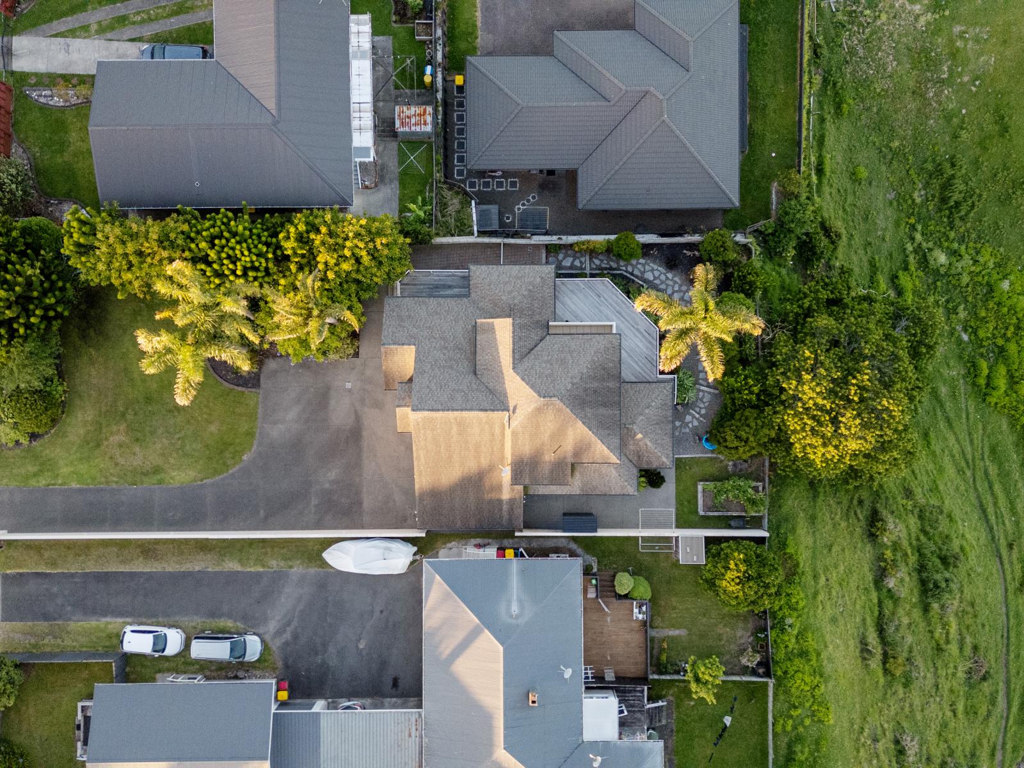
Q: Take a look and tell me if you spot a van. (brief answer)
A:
Yes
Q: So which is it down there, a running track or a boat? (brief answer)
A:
boat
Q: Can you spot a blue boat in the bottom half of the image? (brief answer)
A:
No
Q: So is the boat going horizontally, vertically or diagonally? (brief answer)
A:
horizontally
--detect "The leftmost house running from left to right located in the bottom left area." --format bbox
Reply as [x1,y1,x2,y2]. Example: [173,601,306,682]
[86,678,277,768]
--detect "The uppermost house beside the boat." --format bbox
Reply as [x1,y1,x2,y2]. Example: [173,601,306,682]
[381,263,676,532]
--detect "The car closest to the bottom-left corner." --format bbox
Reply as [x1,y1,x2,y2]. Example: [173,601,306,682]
[117,623,187,660]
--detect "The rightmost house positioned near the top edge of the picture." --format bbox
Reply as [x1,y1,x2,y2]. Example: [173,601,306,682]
[464,0,741,211]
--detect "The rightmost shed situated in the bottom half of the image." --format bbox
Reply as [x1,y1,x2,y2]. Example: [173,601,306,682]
[675,535,705,564]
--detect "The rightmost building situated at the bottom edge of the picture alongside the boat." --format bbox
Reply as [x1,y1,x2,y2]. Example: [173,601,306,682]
[421,554,666,768]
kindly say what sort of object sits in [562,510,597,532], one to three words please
shed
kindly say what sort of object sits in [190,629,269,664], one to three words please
van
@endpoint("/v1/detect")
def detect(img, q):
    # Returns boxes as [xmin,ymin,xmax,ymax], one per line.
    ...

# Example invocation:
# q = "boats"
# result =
[323,537,427,571]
